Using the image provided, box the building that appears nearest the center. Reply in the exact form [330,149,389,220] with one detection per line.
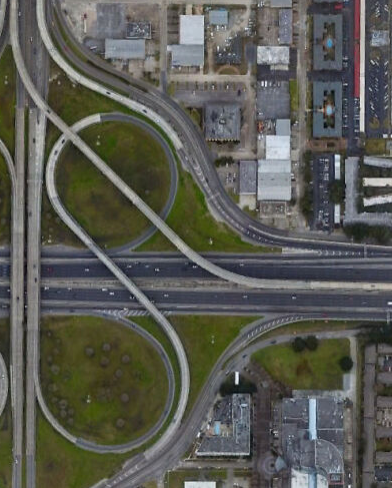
[239,161,256,194]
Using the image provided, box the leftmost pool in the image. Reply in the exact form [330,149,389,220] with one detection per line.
[205,422,232,437]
